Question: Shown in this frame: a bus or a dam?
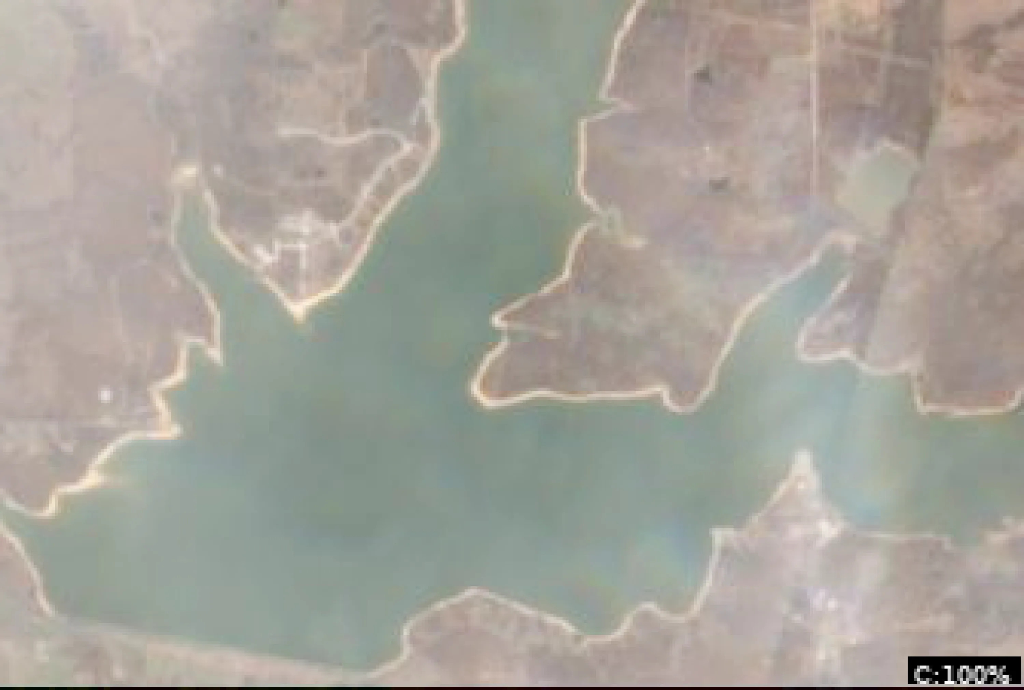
dam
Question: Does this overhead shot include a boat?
No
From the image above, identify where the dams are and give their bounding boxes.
[50,614,371,686]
